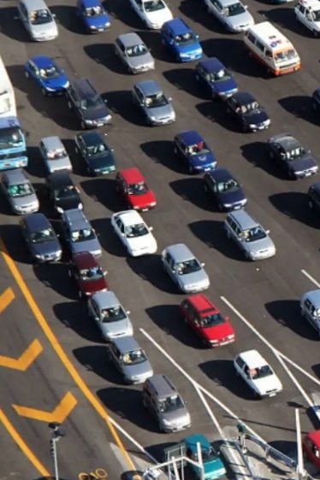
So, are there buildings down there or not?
No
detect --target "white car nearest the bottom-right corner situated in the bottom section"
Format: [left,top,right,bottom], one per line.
[235,349,279,396]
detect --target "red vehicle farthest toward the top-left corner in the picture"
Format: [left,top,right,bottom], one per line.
[117,166,158,209]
